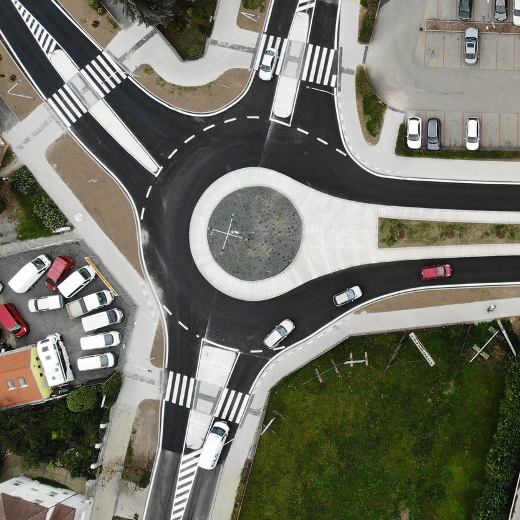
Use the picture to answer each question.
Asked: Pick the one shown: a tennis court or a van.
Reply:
van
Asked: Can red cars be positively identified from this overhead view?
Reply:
Yes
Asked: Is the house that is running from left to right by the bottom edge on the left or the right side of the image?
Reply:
left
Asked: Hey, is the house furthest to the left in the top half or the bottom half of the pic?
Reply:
bottom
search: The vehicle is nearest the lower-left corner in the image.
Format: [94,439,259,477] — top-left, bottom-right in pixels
[55,383,74,397]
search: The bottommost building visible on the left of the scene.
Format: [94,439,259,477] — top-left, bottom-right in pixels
[0,470,104,520]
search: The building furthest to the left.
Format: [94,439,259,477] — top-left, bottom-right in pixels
[0,348,49,412]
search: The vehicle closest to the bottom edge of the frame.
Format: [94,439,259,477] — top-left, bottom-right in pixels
[196,418,229,472]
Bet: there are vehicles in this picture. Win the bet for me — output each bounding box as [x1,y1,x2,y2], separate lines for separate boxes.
[0,300,28,338]
[464,117,480,151]
[332,285,363,307]
[76,331,125,351]
[74,352,118,370]
[77,308,127,332]
[63,291,117,319]
[54,262,99,300]
[405,116,422,148]
[2,254,55,296]
[425,118,442,151]
[492,0,509,21]
[463,28,480,64]
[196,418,229,472]
[258,47,279,82]
[55,383,74,397]
[263,319,296,348]
[509,0,520,25]
[44,254,75,290]
[421,263,452,279]
[37,333,74,389]
[457,0,473,20]
[28,294,68,311]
